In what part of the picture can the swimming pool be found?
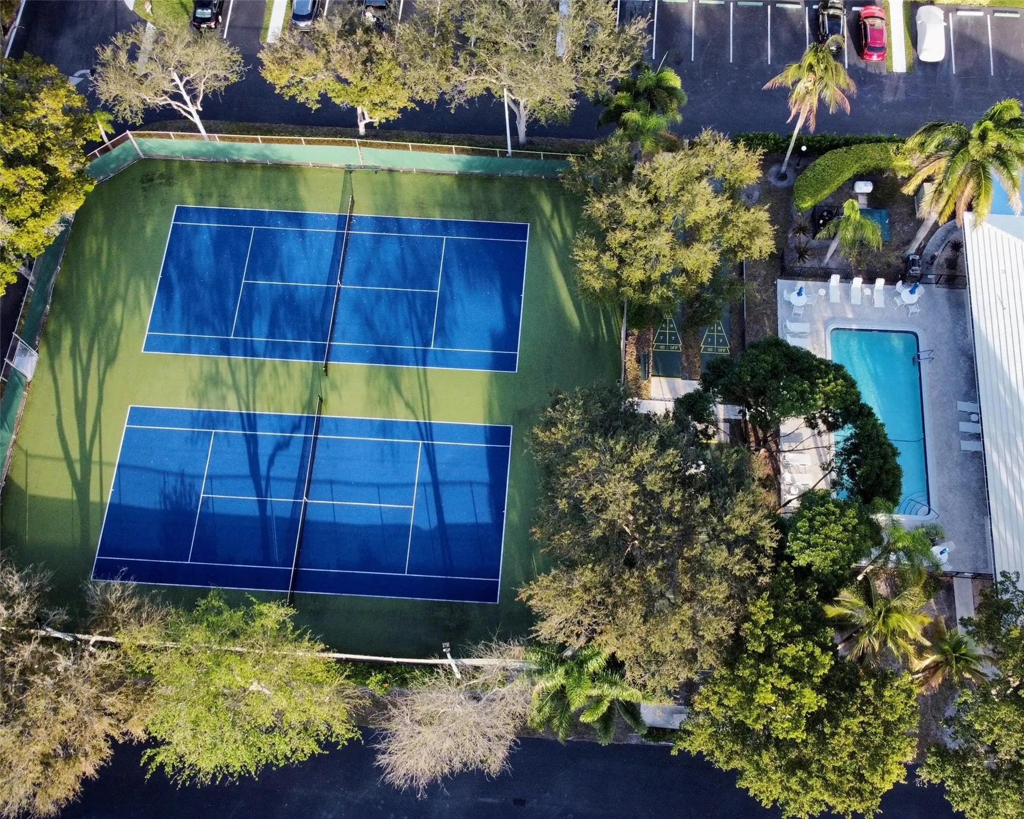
right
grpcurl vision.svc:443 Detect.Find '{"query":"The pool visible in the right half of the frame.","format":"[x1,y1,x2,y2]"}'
[825,324,940,520]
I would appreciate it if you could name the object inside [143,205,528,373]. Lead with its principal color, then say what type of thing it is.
blue tennis court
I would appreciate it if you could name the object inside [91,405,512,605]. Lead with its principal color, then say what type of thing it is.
blue tennis court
